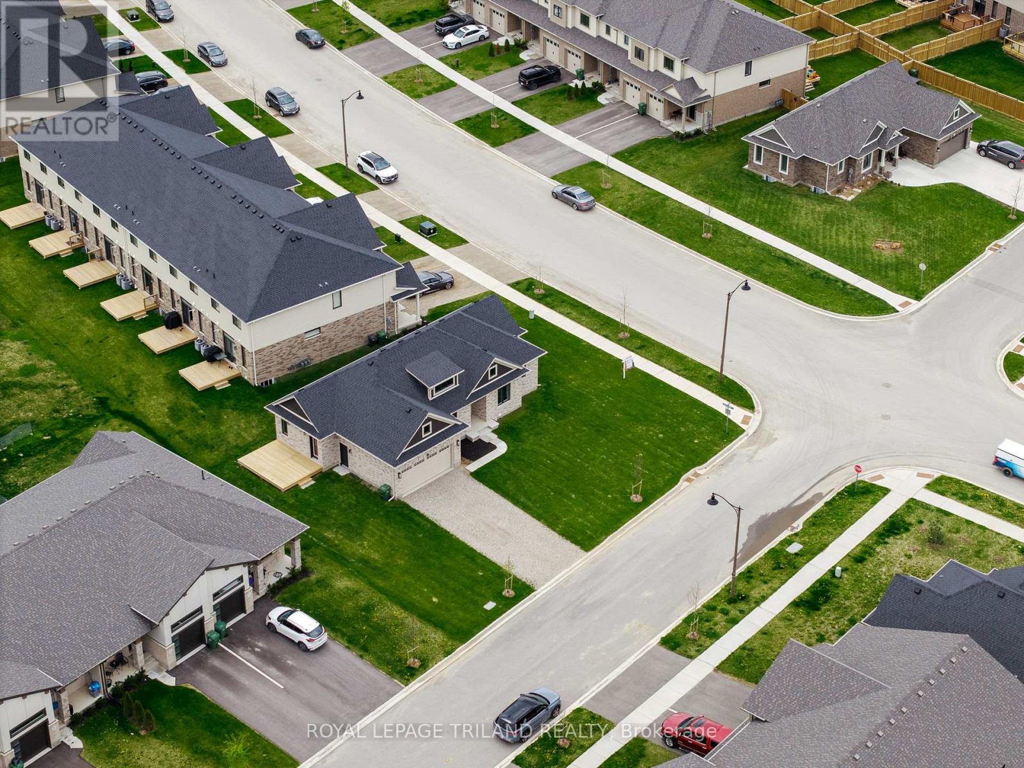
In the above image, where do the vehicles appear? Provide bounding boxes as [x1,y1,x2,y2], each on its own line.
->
[549,183,598,211]
[294,28,328,49]
[993,439,1024,481]
[431,10,473,34]
[111,38,139,56]
[493,689,562,746]
[297,184,338,208]
[444,26,488,49]
[264,88,300,117]
[263,606,332,654]
[148,76,195,98]
[977,140,1024,170]
[355,153,397,184]
[142,0,175,22]
[136,70,169,92]
[194,41,228,66]
[415,270,459,297]
[517,64,563,90]
[658,712,730,759]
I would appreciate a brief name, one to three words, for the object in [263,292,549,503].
house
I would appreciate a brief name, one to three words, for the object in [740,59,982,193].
house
